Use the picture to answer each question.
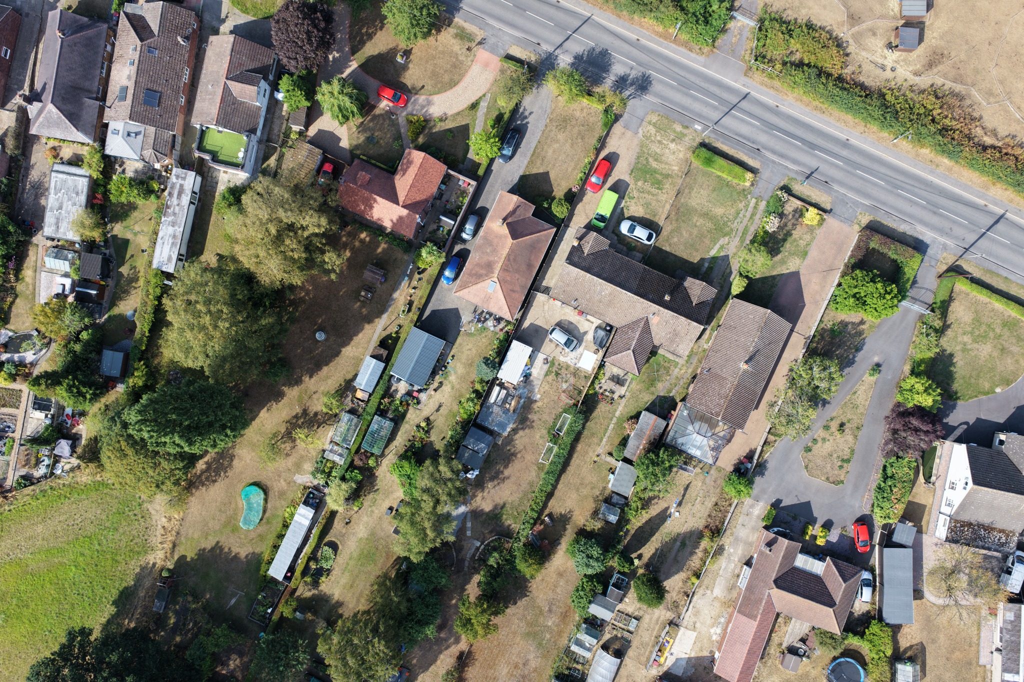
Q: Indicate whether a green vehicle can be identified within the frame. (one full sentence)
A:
Yes, the picture does show a green vehicle.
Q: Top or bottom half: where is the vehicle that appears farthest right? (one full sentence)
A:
Seen from above, the vehicle that appears farthest right lies in the bottom half of the view.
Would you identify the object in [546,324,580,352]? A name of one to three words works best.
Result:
car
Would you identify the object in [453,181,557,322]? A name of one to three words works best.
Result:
house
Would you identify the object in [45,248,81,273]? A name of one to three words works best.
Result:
greenhouse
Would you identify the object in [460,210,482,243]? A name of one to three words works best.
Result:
car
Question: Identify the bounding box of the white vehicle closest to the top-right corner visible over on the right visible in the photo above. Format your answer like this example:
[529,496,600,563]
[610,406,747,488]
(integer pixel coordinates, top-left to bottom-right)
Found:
[618,221,656,246]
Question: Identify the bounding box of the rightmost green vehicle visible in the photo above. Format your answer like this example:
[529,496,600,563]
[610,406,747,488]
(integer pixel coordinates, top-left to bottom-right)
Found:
[590,192,617,231]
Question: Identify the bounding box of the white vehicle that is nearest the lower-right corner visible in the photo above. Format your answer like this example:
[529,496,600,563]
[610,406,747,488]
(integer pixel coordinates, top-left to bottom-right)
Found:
[998,552,1024,594]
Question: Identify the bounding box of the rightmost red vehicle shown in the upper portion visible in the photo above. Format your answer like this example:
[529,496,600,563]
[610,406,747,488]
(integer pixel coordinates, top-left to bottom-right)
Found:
[587,158,612,194]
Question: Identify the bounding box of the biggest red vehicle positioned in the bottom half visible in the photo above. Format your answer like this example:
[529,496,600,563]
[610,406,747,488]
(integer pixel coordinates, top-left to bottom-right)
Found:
[851,521,872,553]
